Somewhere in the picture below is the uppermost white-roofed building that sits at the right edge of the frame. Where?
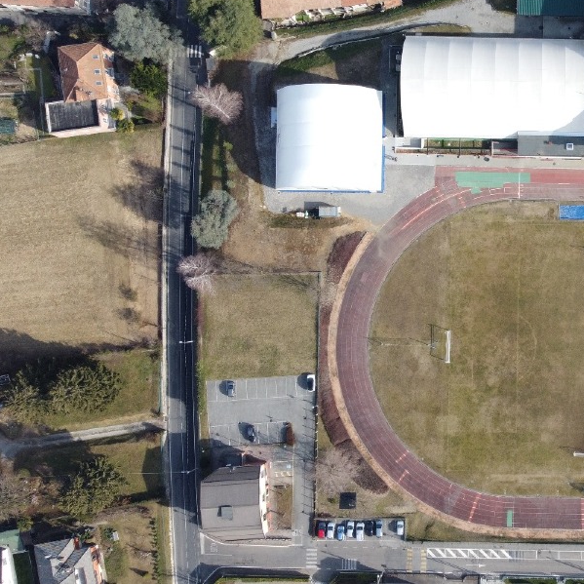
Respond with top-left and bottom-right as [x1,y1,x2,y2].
[400,40,584,141]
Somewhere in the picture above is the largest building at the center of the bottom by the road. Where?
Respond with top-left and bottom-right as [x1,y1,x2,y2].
[200,463,271,542]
